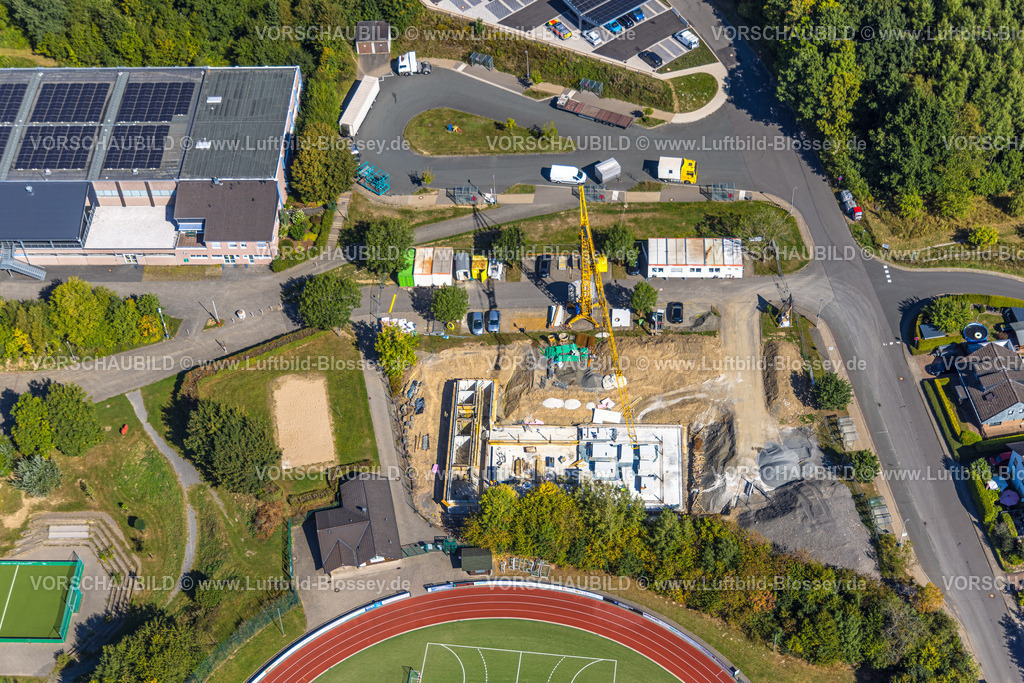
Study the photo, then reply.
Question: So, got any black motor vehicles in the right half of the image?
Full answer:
Yes, in the right half of the image there is a black motor vehicle.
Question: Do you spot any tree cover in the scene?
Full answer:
Yes, tree cover shows up in the scene.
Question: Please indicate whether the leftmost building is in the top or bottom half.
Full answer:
You can find the leftmost building in the top half.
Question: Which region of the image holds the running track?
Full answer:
The running track is located in the bottom region of the scene.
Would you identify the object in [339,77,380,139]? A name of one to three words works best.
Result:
trailer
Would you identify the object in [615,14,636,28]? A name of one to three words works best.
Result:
car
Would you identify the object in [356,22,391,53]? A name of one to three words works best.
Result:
building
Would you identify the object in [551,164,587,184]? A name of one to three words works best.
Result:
vehicle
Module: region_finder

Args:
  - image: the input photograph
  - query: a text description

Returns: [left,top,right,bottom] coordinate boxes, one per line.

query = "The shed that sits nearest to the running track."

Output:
[458,548,492,577]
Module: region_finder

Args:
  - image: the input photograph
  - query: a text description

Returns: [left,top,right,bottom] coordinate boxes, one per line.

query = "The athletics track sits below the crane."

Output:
[265,589,731,683]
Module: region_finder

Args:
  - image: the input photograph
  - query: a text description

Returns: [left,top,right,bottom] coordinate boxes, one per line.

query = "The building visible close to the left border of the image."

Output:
[0,64,303,268]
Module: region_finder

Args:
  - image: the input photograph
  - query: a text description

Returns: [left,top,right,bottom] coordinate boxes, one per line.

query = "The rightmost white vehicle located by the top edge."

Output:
[674,29,698,46]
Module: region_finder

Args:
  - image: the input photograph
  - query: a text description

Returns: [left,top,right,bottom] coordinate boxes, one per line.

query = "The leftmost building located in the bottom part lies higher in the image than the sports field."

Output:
[315,468,402,578]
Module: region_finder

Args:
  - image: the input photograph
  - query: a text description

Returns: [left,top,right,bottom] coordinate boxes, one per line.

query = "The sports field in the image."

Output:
[308,615,688,683]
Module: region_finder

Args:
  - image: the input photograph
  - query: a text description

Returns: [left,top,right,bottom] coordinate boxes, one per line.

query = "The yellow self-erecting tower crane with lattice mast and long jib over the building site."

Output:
[566,182,638,446]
